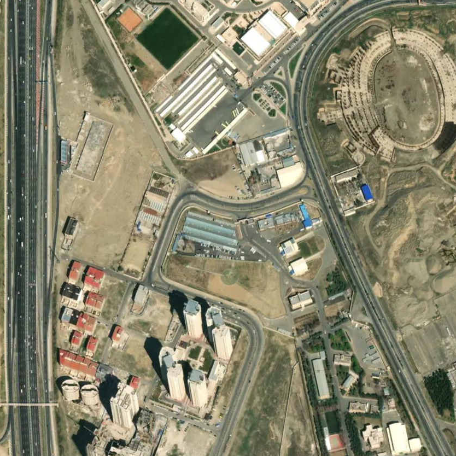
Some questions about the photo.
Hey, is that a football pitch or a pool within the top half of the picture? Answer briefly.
football pitch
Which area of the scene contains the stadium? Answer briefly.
top right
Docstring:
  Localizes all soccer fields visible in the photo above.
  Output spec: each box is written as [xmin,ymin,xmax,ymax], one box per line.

[136,8,200,70]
